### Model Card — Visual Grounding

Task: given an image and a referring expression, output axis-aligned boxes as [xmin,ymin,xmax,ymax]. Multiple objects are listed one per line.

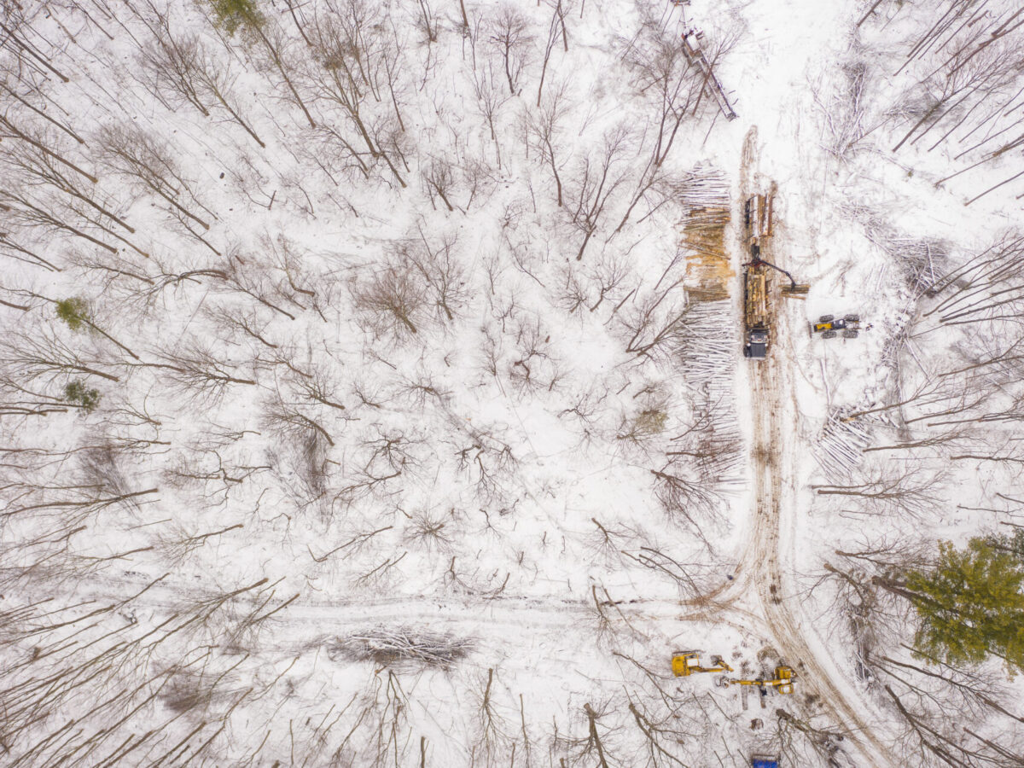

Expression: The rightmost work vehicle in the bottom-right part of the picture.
[717,666,799,694]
